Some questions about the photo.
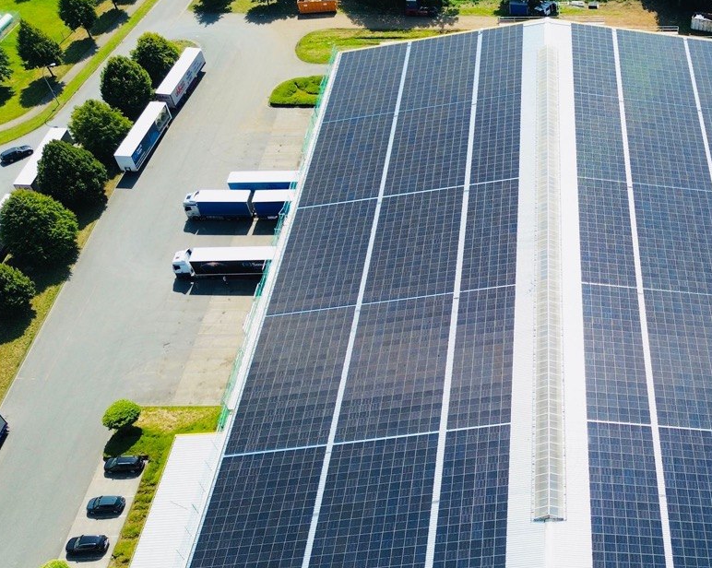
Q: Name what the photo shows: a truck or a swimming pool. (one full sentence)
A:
This aerial view contains a truck.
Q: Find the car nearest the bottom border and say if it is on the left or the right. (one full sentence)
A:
The car nearest the bottom border appears in the left half of the scene.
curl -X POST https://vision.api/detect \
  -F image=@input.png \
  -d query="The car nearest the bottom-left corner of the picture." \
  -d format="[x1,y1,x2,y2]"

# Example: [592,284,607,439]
[63,536,113,558]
